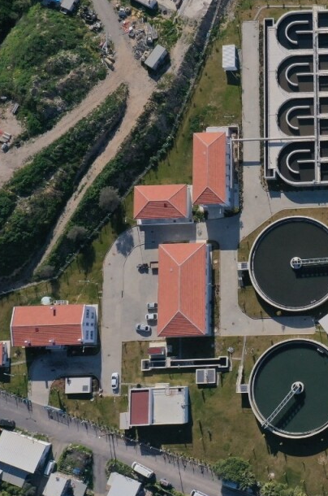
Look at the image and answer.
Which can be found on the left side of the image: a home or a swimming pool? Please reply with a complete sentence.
The feature located on the left side of the image is a home.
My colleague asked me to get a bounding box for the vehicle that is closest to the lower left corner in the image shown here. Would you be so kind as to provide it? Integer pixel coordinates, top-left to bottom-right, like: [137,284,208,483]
[40,457,58,481]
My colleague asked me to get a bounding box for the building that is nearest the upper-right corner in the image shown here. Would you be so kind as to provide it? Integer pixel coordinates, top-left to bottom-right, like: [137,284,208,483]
[193,127,243,208]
